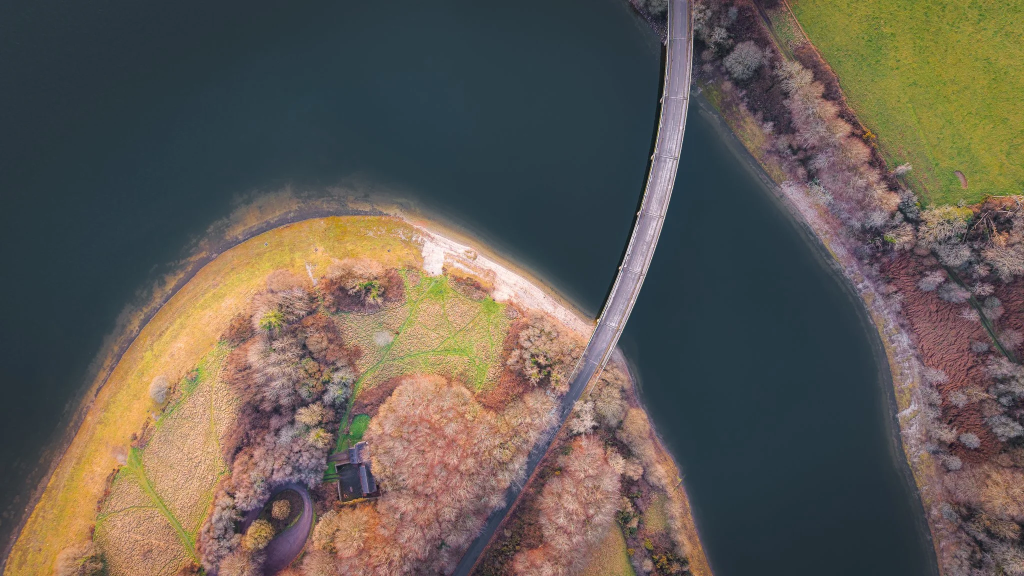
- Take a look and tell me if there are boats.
No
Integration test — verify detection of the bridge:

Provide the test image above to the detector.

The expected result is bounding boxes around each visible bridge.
[567,0,694,396]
